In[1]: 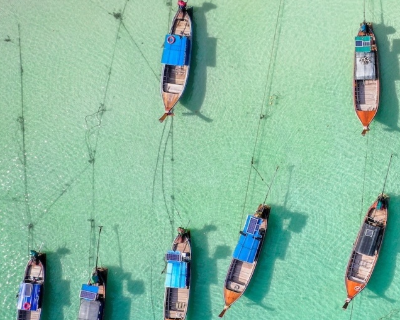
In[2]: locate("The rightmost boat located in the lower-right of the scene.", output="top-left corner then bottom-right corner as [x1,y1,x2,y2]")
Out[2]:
[342,155,392,311]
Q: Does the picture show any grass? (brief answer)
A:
No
